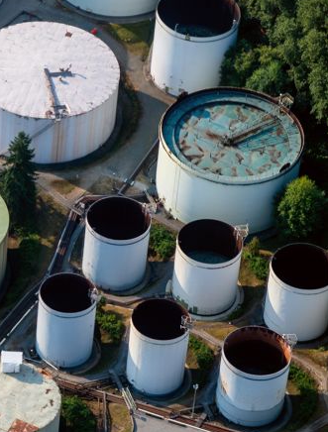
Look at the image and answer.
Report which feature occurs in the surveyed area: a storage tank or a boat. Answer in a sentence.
Looking from above, you can make out a storage tank.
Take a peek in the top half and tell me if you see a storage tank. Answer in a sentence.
Yes, a storage tank appears in the top half.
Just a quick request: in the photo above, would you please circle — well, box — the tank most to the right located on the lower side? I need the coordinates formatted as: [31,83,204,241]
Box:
[259,241,328,343]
